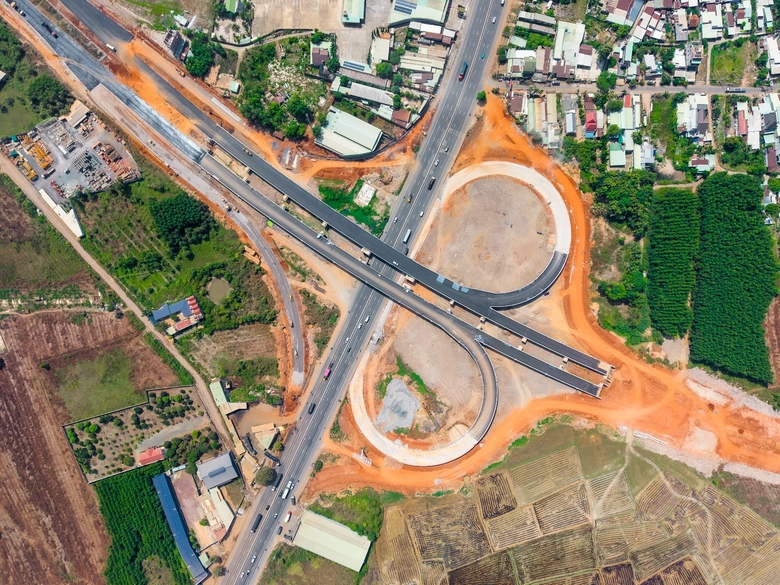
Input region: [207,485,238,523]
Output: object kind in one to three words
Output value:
shed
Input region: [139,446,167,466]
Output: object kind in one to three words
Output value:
house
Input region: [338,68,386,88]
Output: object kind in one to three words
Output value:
building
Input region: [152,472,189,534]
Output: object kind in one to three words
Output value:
shed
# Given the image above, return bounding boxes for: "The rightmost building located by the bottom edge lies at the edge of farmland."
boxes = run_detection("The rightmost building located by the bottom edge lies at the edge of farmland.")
[293,507,372,571]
